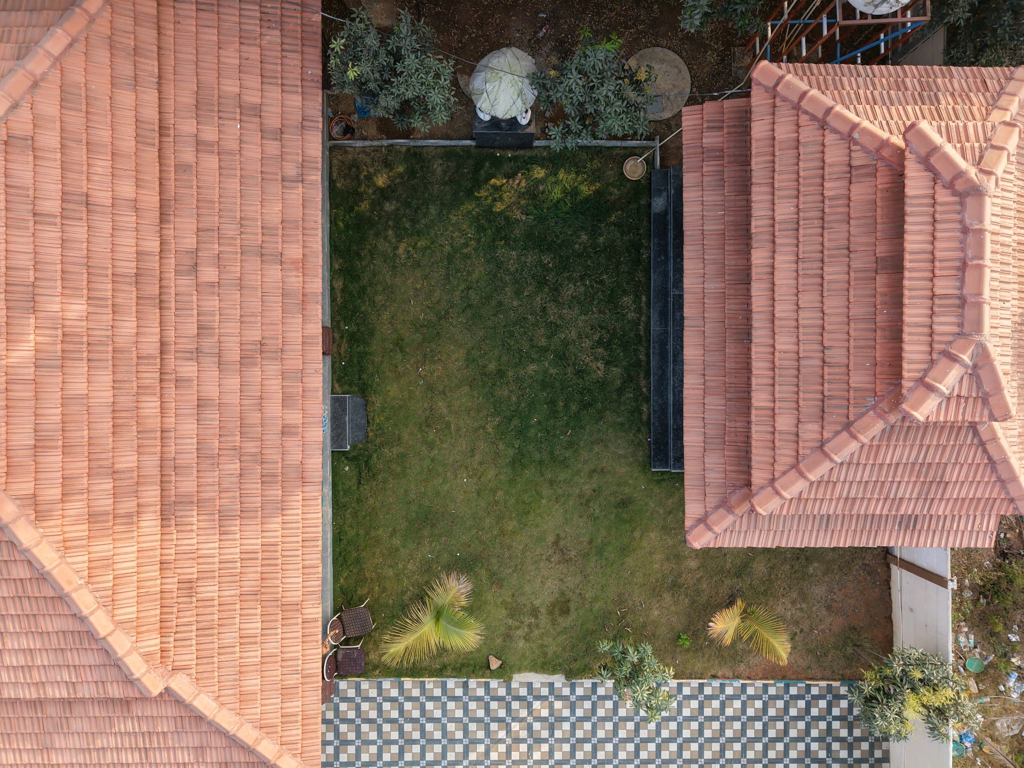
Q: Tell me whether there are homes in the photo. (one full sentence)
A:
Yes, the frame does contain a home.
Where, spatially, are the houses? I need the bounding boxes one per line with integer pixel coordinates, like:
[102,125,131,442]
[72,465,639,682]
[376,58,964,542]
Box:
[0,0,324,768]
[674,50,1024,559]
